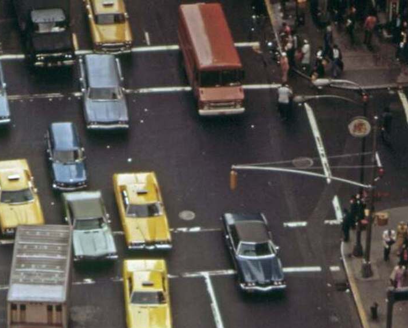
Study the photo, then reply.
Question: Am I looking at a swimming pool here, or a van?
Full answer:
Looking from above, you can make out a van.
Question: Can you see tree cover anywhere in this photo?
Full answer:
No, tree cover can't be seen anywhere here.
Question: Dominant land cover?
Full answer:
What you mostly see from above here is paved ground.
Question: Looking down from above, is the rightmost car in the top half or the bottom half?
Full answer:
You can find the rightmost car in the bottom half.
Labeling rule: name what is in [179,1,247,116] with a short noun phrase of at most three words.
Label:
van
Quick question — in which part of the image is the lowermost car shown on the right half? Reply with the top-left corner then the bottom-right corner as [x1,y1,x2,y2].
[221,213,285,290]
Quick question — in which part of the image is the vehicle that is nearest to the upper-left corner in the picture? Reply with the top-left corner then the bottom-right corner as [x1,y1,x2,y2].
[25,0,75,67]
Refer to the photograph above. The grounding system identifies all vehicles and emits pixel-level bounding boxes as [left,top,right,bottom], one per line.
[0,160,42,233]
[83,0,132,53]
[43,122,87,189]
[221,213,285,290]
[79,56,128,129]
[25,0,75,67]
[6,223,68,328]
[113,174,172,250]
[122,259,172,328]
[179,1,247,116]
[60,189,117,260]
